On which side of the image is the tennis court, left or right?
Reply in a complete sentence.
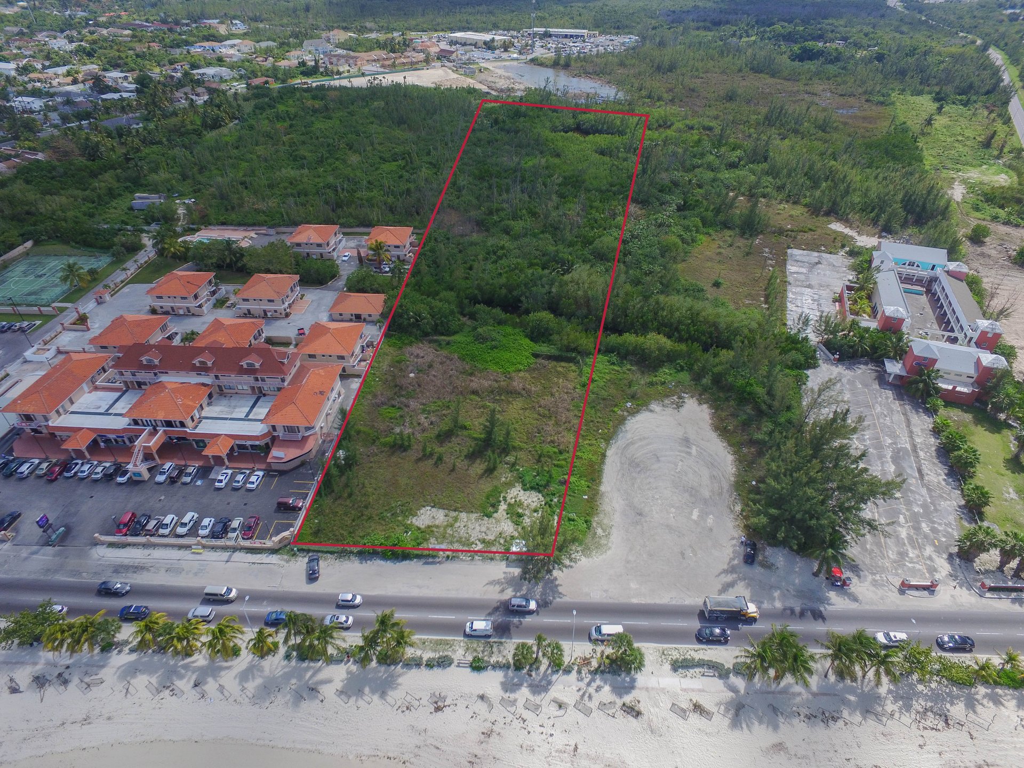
It is on the left.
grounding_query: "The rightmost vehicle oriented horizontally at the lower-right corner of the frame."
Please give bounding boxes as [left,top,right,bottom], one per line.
[935,631,979,650]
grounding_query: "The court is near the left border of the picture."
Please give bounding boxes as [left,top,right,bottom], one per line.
[0,255,113,304]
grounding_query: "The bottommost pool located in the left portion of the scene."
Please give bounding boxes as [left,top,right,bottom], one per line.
[179,230,267,246]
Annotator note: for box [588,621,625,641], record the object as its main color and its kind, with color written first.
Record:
white car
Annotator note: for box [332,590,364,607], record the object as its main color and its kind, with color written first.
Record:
white car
